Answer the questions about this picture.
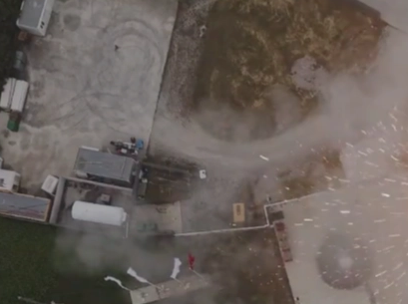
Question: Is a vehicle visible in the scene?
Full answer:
Yes, a vehicle can be made out from above.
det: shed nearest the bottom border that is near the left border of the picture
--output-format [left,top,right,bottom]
[0,190,54,220]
